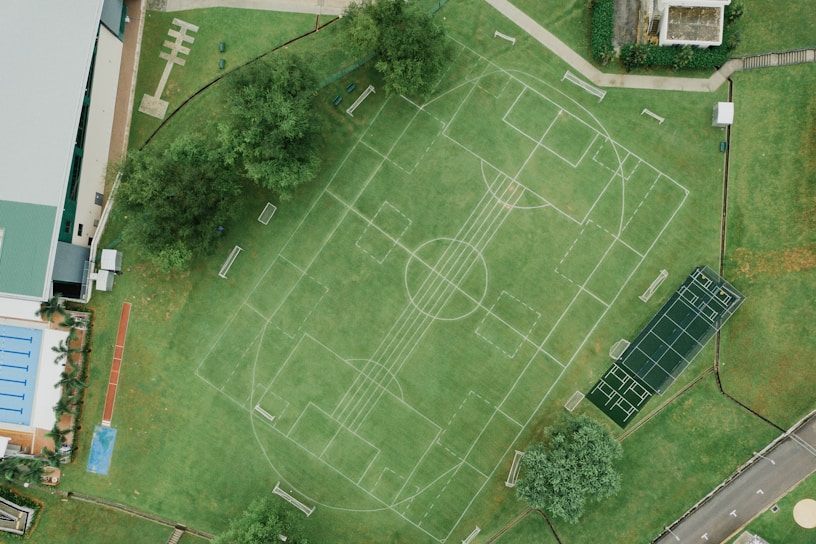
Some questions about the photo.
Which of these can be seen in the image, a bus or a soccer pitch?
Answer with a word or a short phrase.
soccer pitch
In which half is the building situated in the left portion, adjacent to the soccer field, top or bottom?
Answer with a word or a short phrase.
top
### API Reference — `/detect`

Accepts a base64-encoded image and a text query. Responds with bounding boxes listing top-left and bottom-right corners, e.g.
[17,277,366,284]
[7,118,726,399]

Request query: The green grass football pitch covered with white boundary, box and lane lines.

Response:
[197,29,689,541]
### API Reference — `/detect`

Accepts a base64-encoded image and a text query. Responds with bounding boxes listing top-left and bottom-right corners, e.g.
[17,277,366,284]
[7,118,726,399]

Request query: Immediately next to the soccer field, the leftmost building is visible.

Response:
[0,0,128,305]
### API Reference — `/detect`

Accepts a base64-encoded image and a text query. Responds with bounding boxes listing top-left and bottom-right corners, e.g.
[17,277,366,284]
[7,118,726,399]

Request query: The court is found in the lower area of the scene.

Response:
[586,266,737,429]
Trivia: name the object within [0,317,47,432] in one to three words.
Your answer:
swimming pool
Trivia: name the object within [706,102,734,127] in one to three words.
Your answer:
shed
